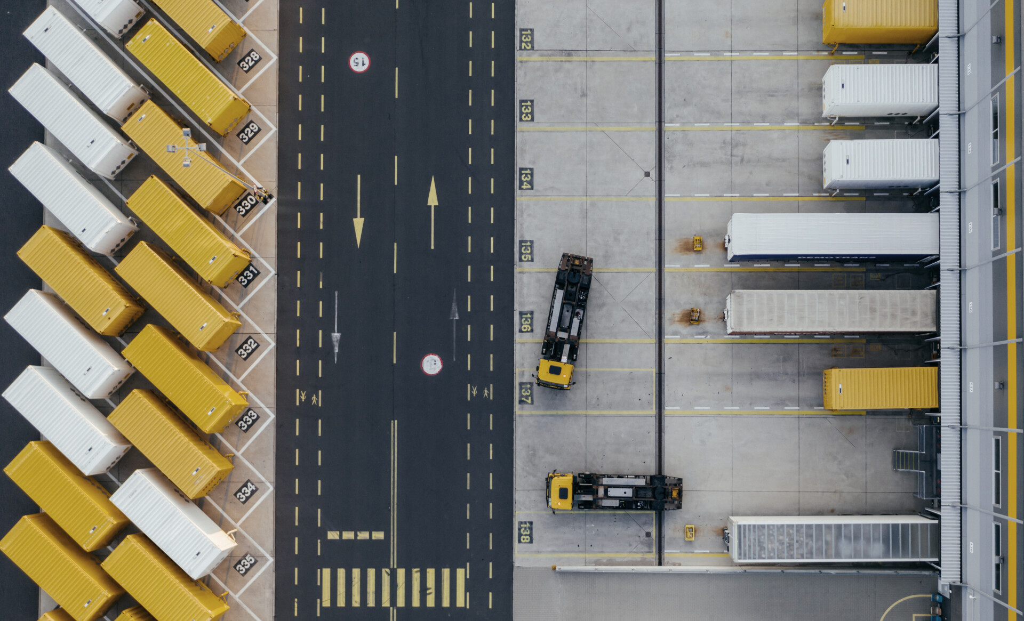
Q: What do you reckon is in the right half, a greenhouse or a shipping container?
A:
shipping container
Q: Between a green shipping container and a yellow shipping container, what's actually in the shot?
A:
yellow shipping container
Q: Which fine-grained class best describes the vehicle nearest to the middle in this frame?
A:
truck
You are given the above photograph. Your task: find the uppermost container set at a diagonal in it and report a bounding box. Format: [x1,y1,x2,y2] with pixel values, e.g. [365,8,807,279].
[153,0,246,62]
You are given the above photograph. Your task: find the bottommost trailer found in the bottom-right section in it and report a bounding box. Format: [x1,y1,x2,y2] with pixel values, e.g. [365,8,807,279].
[725,517,940,563]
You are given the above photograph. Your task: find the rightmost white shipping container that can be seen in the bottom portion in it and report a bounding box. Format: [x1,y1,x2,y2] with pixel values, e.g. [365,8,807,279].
[110,468,237,580]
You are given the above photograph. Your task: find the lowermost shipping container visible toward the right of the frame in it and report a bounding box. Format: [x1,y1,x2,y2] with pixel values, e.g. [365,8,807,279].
[823,368,939,411]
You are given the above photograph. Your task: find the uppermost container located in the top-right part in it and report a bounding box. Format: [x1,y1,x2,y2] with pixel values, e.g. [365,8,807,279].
[822,0,938,59]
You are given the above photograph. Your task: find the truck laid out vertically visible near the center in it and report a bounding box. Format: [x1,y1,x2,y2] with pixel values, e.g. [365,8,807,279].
[530,255,593,391]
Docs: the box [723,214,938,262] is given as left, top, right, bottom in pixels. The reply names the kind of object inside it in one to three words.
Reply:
trailer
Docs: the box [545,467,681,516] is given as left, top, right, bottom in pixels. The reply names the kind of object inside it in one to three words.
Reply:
truck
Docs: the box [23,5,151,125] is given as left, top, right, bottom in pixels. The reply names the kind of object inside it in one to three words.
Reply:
shipping container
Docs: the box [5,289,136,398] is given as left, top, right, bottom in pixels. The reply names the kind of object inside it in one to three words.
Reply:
shipping container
